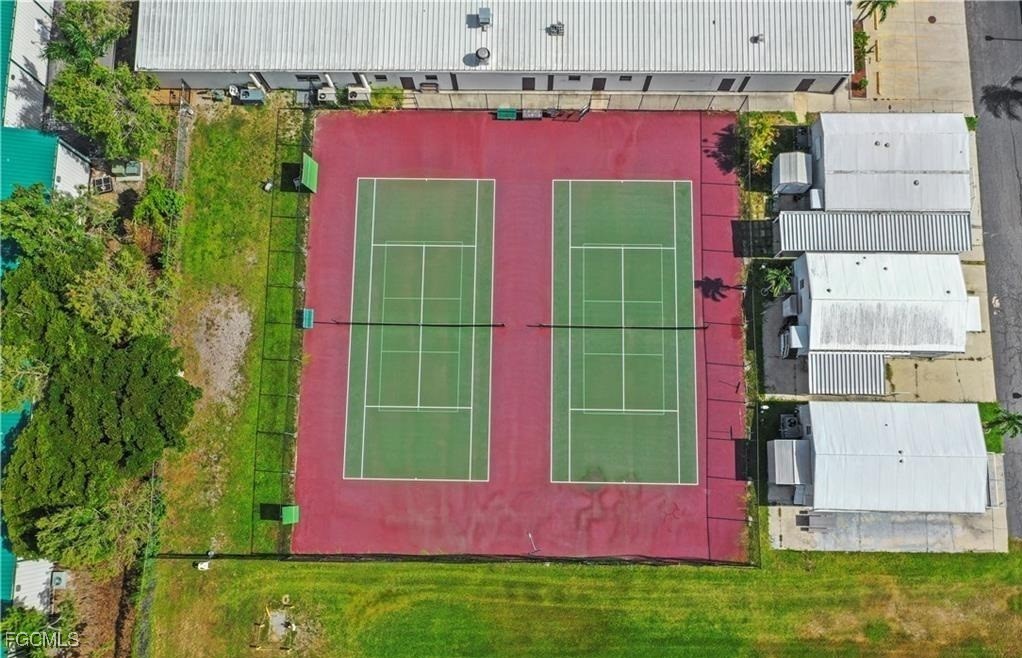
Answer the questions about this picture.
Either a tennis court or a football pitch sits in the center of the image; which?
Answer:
tennis court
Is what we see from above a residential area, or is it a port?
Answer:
residential area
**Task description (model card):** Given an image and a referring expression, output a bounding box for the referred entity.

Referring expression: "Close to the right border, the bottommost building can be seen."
[797,402,997,513]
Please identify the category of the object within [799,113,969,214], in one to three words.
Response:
house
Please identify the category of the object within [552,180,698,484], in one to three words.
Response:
tennis court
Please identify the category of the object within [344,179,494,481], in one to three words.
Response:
tennis court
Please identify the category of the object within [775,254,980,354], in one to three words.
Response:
house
